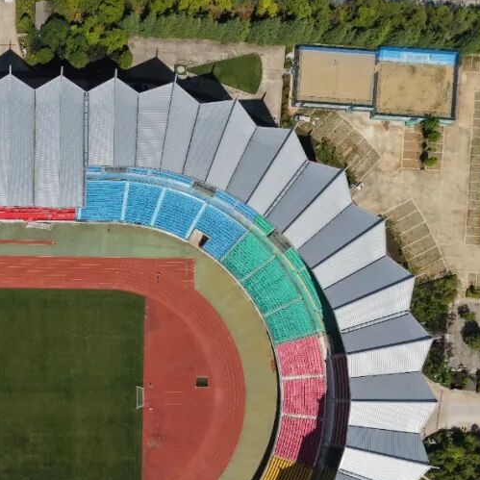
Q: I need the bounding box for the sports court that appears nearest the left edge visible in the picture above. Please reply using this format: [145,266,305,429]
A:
[295,48,381,105]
